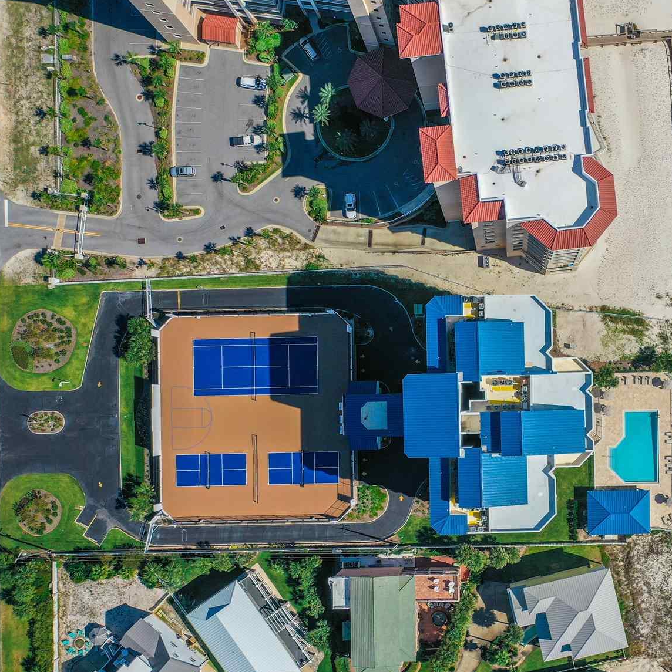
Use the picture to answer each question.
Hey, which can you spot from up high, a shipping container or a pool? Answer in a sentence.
This aerial view contains a pool.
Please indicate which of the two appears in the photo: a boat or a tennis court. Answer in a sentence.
The one in the frame is a tennis court.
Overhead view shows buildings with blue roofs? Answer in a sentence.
Yes, I can see a building with a blue roof in this picture.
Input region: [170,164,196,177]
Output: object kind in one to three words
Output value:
vehicle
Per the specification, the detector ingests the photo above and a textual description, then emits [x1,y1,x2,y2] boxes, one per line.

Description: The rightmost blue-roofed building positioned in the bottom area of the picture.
[586,491,650,539]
